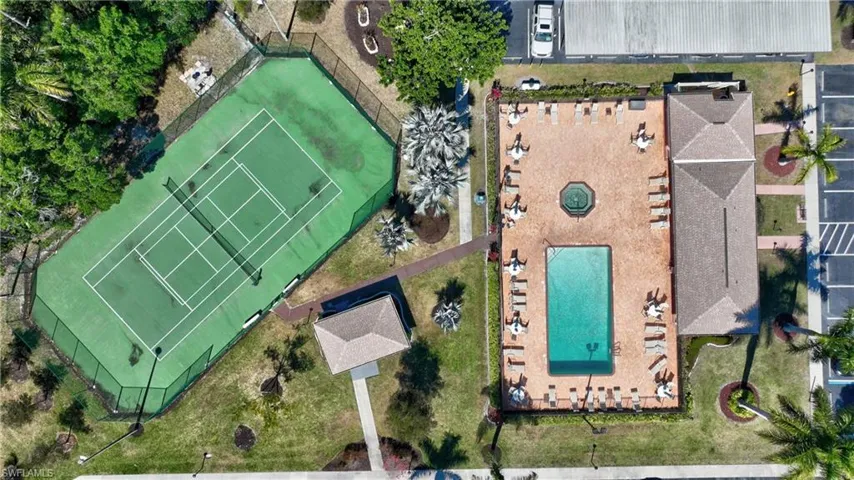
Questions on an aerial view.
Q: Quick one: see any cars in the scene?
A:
Yes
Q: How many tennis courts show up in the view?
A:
one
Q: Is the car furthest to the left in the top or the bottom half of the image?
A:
top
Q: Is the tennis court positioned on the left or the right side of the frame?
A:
left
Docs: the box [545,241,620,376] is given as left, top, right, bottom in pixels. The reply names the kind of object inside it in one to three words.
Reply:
swimming pool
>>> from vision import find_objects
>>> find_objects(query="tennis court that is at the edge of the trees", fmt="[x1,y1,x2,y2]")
[33,58,394,413]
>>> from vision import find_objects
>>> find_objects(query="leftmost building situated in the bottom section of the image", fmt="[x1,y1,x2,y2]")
[314,294,412,374]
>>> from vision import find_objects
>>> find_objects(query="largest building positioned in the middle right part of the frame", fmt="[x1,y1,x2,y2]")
[662,91,760,335]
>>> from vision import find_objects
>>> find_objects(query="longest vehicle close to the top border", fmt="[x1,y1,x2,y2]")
[533,9,559,61]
